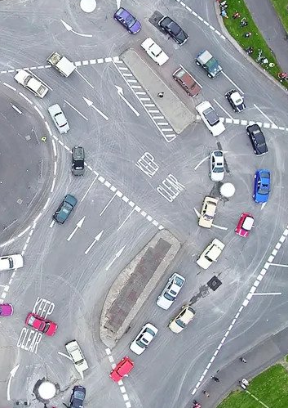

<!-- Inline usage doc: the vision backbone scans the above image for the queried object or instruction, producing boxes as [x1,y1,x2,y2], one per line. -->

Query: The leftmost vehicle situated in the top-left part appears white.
[13,69,49,100]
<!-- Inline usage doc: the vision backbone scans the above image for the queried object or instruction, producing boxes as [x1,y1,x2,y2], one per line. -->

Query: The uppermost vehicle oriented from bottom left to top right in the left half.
[51,193,78,226]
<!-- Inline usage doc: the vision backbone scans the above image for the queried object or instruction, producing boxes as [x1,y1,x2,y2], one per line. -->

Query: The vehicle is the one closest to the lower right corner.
[167,305,195,333]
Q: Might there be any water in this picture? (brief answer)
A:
No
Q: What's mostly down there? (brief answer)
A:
paved ground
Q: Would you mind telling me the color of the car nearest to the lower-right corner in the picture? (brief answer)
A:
white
